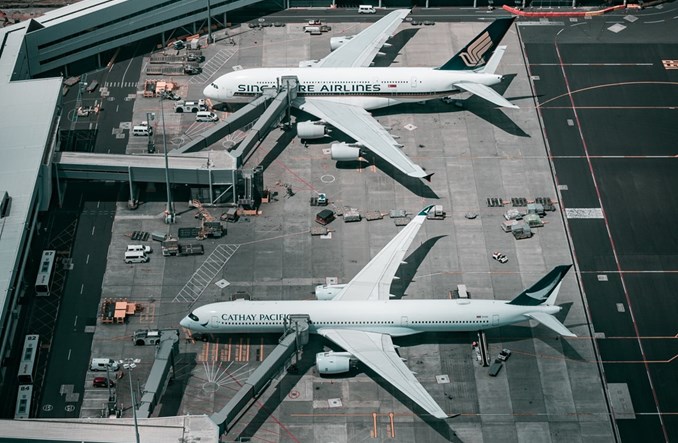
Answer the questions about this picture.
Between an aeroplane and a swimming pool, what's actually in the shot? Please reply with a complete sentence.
There is an aeroplane in the scene.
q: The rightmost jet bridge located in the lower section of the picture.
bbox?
[215,317,312,443]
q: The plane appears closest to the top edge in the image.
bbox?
[203,3,522,179]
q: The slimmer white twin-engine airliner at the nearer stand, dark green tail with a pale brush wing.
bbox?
[179,205,577,417]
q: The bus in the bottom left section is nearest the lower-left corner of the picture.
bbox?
[11,387,33,418]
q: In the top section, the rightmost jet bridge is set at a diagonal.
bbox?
[229,75,303,199]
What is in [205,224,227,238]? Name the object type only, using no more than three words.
vehicle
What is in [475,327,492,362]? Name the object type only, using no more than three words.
work vehicle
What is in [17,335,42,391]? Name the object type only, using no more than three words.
bus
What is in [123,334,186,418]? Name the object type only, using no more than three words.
jet bridge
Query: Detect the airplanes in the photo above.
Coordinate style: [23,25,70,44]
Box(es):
[203,3,522,179]
[179,205,577,417]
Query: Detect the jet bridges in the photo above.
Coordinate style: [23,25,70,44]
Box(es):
[166,88,278,152]
[229,75,303,199]
[215,317,312,443]
[123,334,186,418]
